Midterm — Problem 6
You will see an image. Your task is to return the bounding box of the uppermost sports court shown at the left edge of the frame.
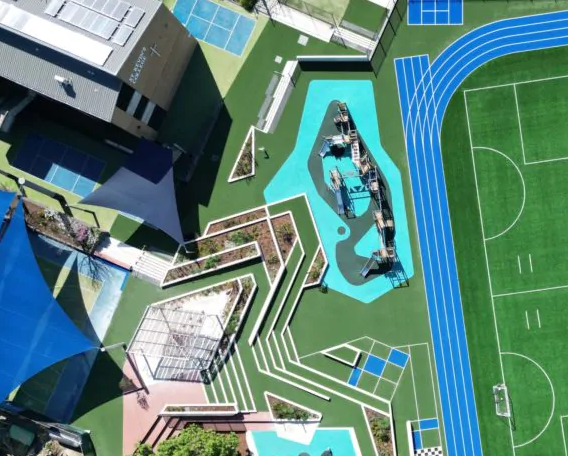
[7,130,106,199]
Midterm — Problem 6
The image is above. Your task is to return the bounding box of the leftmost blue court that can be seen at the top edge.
[171,0,257,56]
